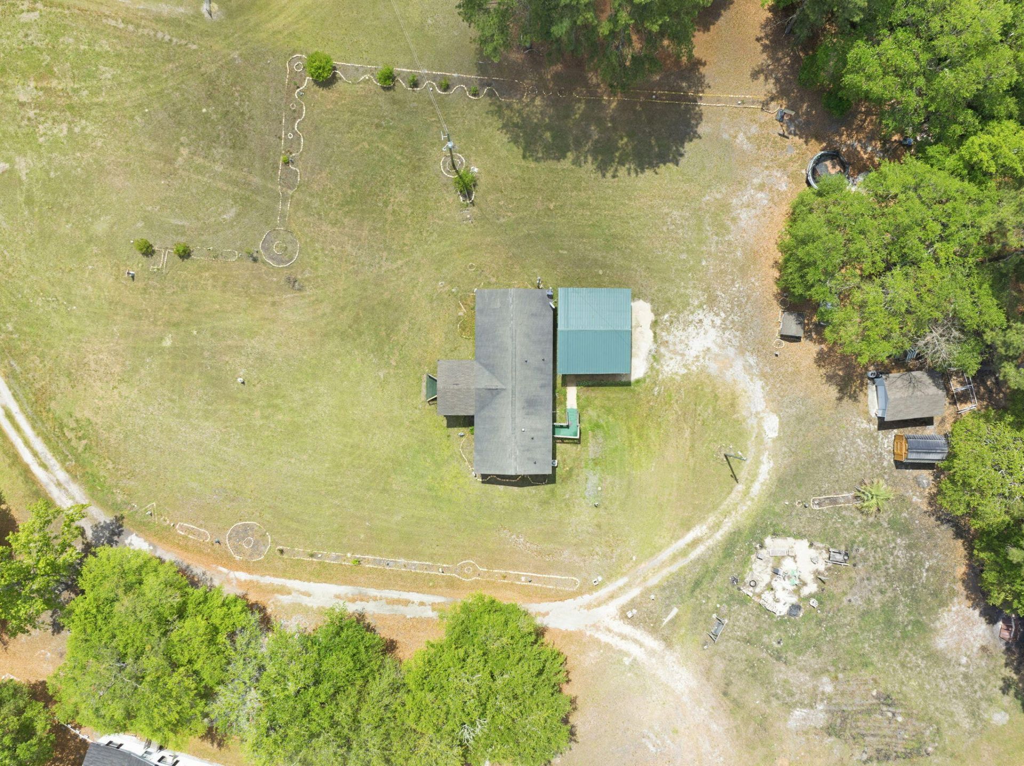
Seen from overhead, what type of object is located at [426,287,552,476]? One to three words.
house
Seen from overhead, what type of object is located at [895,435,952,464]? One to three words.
building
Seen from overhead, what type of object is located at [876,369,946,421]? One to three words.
shed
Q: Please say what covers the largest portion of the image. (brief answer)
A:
grass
